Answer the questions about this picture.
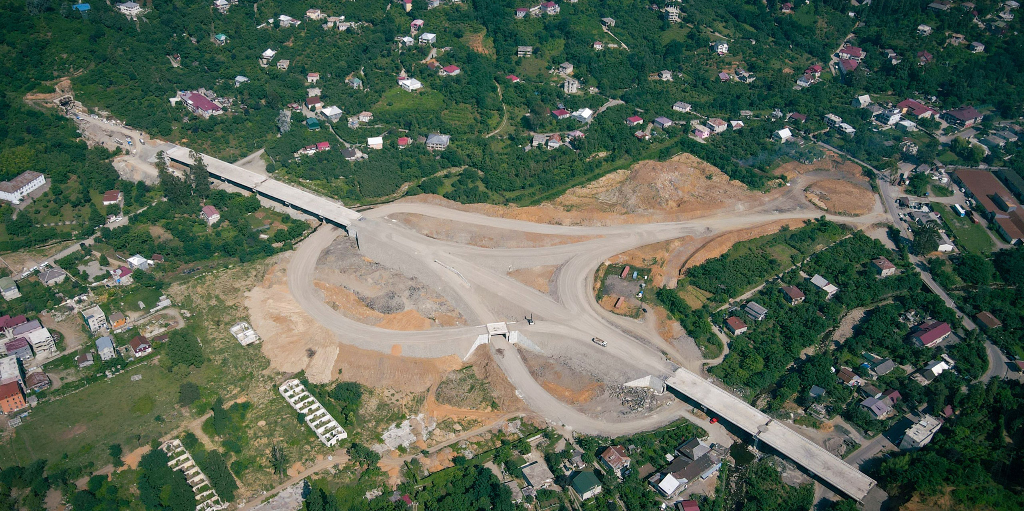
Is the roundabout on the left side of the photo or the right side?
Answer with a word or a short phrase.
right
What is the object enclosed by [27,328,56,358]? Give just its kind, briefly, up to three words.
house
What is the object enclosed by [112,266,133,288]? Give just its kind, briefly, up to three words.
house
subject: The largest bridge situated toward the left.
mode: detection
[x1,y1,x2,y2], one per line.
[167,150,362,251]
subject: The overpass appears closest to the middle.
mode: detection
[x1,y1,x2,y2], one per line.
[467,321,539,355]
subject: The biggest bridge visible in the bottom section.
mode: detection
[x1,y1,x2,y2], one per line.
[625,366,878,496]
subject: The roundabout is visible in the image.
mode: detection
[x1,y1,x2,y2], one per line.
[759,169,892,222]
